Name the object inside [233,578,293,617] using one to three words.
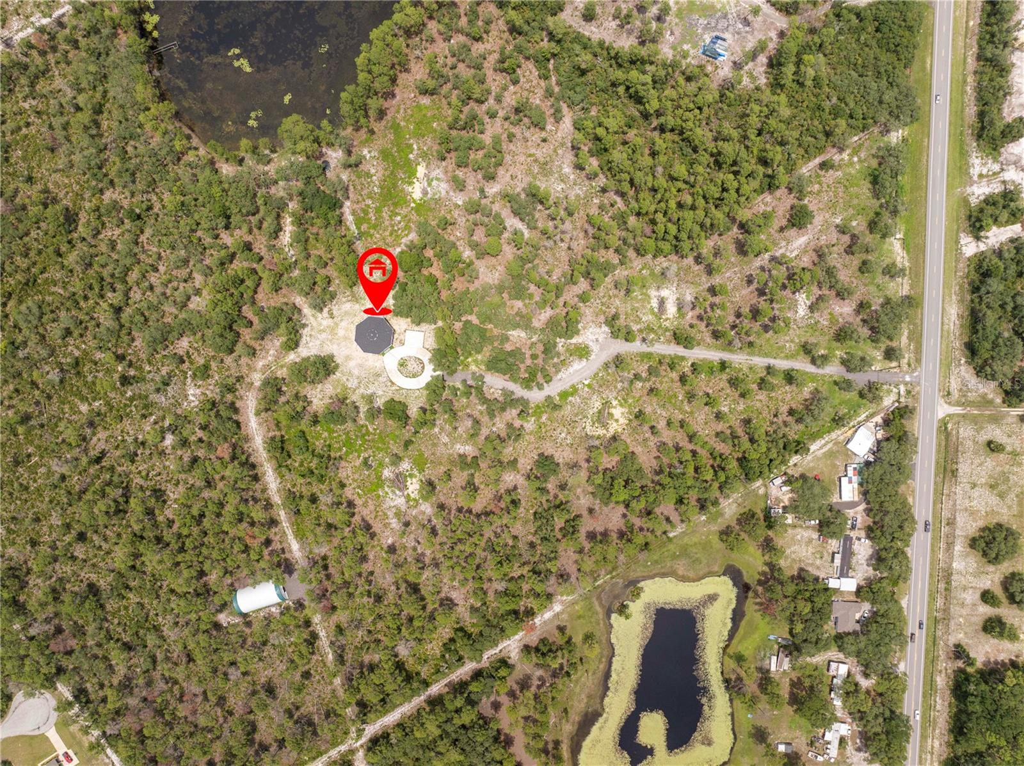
barn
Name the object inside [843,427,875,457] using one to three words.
building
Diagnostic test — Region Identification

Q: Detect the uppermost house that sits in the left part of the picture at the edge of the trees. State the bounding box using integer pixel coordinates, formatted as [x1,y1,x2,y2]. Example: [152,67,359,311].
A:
[355,316,394,354]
